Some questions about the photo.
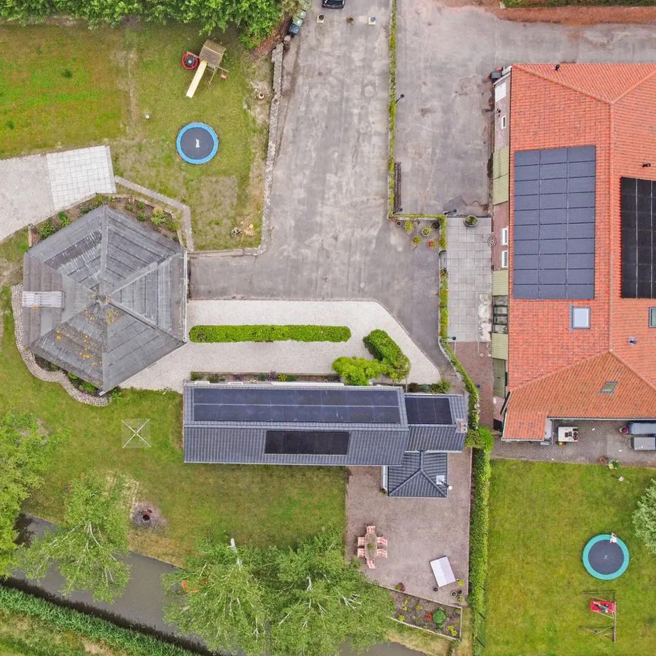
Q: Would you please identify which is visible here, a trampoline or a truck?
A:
trampoline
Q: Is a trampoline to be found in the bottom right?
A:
Yes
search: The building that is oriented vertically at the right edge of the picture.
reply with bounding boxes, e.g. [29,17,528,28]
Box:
[492,61,656,443]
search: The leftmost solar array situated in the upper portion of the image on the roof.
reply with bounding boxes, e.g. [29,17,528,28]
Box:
[513,145,597,300]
